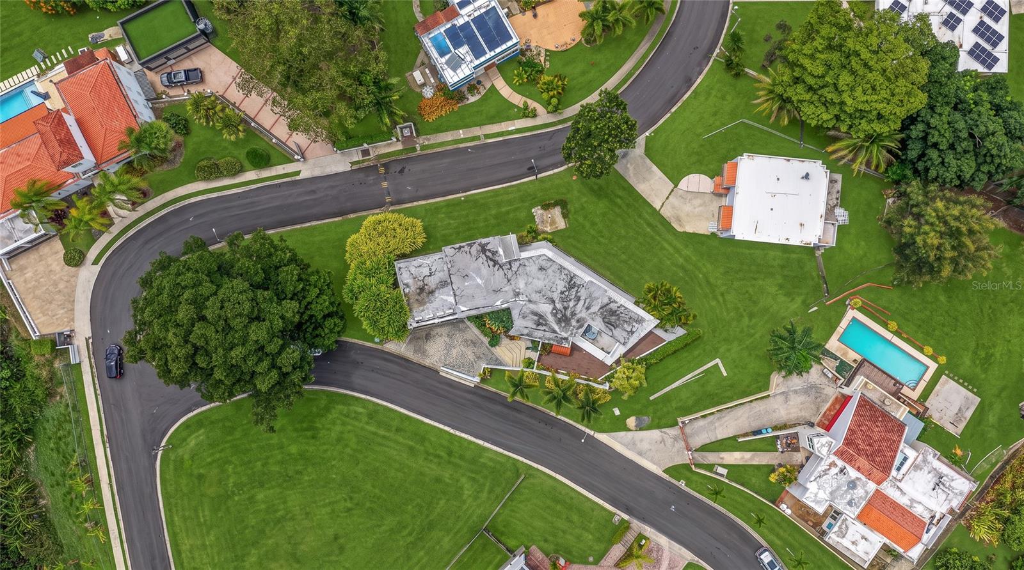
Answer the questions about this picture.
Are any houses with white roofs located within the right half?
Yes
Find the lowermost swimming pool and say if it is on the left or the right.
right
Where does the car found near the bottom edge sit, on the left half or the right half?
right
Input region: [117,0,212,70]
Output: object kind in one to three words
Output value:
building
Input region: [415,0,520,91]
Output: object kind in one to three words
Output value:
house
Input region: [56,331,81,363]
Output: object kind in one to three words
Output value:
building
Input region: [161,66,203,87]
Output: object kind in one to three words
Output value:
truck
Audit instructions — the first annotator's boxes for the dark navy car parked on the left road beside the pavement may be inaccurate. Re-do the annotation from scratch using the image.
[104,345,125,379]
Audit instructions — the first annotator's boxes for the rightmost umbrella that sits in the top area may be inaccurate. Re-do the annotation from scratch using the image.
[421,85,435,99]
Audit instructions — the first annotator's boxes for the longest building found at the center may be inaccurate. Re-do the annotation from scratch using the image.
[395,234,661,367]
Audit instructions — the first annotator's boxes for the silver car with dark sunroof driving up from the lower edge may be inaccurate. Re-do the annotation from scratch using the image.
[756,545,781,570]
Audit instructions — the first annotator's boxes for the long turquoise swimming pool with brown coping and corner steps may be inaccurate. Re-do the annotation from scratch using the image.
[836,315,931,393]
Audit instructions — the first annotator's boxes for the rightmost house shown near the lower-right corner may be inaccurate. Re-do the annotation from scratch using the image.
[786,377,981,569]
